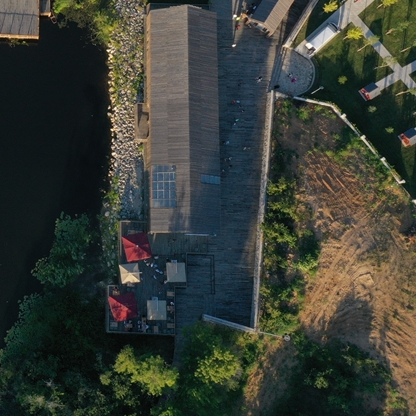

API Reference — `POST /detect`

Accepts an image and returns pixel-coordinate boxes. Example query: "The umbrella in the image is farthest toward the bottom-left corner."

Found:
[109,292,141,324]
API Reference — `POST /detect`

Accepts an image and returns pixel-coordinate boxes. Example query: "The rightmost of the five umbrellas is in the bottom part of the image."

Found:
[163,256,186,284]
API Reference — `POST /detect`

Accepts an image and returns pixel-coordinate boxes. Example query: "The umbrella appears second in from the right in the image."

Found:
[145,292,168,321]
